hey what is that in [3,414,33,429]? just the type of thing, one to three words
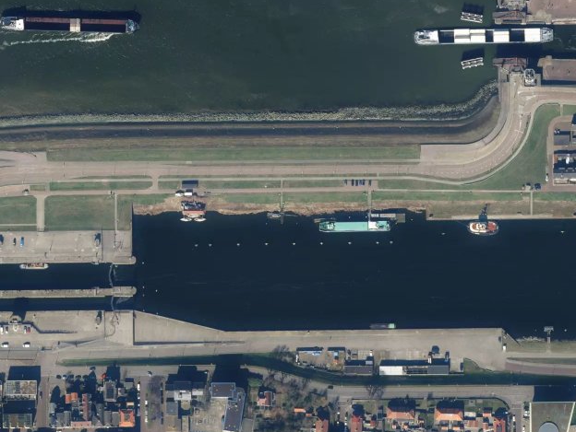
building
